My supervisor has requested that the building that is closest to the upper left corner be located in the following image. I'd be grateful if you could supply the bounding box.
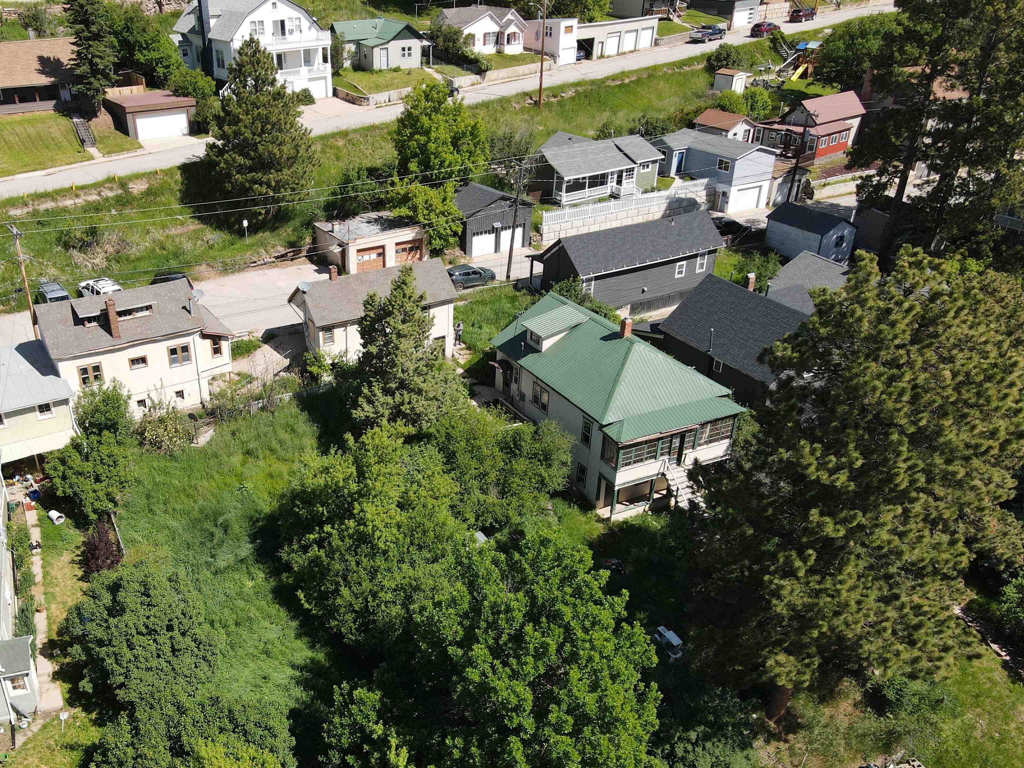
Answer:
[0,43,108,126]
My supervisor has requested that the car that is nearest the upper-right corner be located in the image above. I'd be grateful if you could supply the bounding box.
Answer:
[789,8,816,22]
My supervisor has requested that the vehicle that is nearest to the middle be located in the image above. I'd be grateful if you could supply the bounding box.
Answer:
[446,263,502,291]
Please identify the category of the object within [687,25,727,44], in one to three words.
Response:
vehicle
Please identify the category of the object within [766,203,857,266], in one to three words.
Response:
shed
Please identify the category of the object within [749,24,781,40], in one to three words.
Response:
car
